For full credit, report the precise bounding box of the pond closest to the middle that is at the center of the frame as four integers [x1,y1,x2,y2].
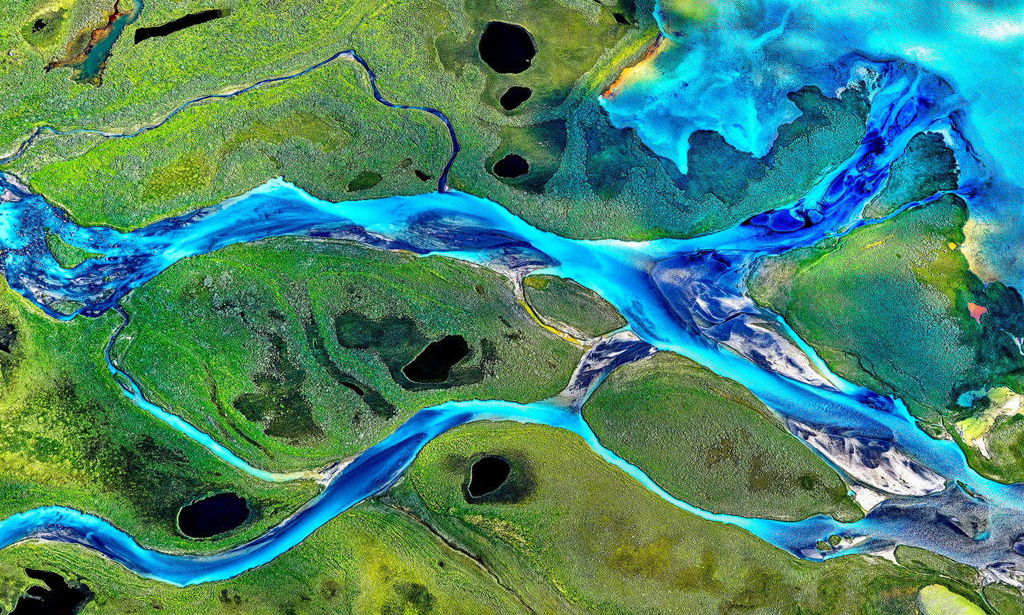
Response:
[403,335,468,382]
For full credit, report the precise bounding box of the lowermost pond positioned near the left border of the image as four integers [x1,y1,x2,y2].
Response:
[9,570,94,615]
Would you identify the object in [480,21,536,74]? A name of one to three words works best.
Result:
pond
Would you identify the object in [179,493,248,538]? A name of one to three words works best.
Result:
pond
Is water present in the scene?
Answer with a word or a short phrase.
Yes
